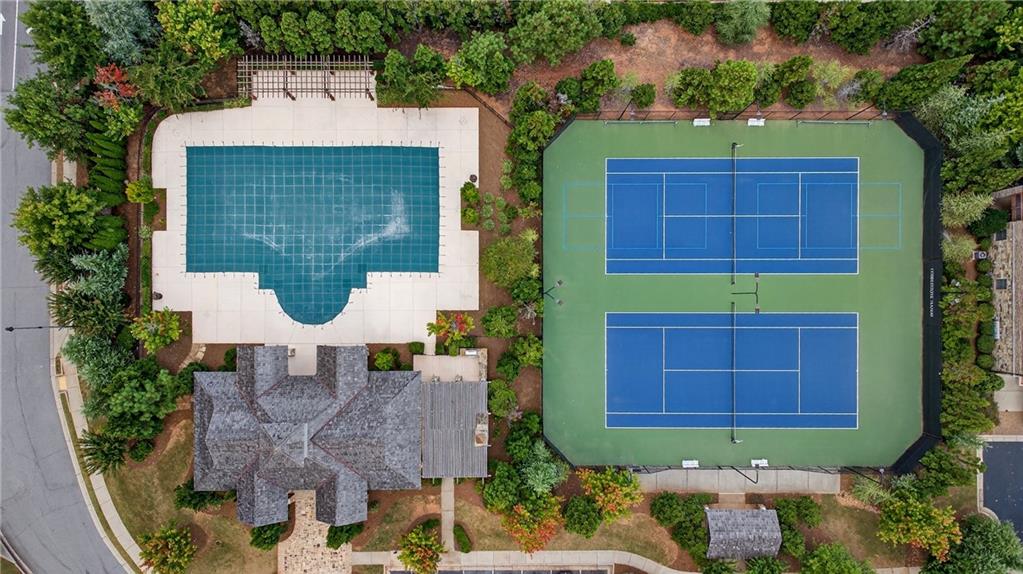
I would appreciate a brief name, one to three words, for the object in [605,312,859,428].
tennis court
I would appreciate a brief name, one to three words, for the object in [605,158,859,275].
tennis court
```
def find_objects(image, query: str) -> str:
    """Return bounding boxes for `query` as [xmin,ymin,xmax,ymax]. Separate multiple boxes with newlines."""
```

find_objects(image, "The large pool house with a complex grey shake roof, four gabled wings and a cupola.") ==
[193,345,422,527]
